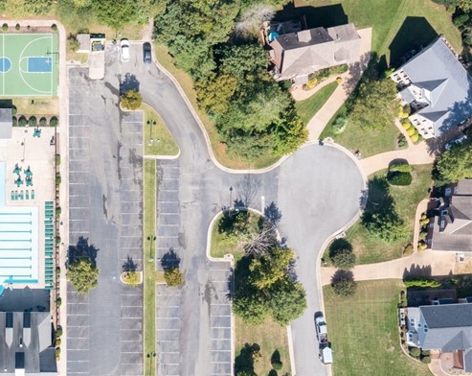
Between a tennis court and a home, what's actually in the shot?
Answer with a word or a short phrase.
home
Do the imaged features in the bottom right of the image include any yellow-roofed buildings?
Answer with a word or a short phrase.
No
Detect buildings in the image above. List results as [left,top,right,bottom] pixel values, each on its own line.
[0,108,13,139]
[390,38,472,144]
[77,32,89,53]
[262,17,361,85]
[399,306,472,376]
[0,312,57,376]
[417,179,472,249]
